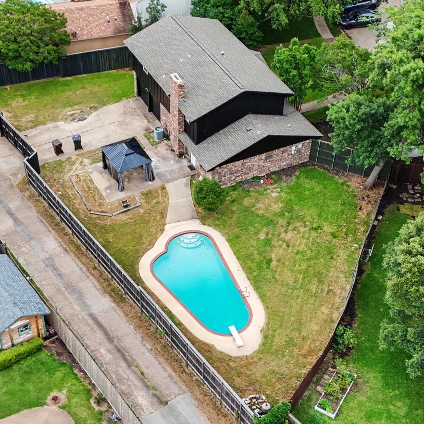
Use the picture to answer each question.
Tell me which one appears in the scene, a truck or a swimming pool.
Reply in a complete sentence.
The one in the frame is a swimming pool.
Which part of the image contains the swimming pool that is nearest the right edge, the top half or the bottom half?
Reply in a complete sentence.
It is in the bottom half that the swimming pool that is nearest the right edge appears.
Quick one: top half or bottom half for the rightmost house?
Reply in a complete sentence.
The rightmost house sits in the top half of the picture.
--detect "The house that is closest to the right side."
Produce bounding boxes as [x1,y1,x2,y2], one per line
[124,15,323,190]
